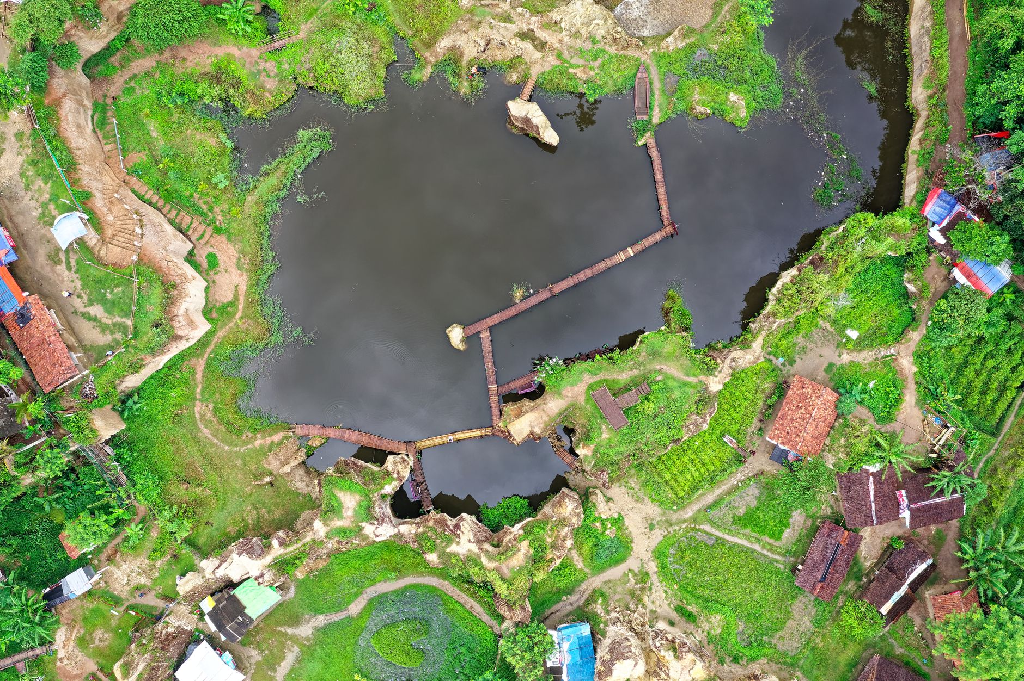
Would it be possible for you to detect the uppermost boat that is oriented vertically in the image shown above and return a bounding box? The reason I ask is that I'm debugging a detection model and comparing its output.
[635,56,650,120]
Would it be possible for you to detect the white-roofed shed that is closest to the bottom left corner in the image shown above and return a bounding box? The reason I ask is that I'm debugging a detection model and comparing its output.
[44,566,109,609]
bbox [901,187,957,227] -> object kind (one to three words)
shed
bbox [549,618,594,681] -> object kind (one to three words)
house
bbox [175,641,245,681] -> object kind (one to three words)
building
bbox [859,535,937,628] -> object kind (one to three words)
house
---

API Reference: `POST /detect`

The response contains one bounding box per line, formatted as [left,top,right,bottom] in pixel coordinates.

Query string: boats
[635,56,650,120]
[671,221,680,235]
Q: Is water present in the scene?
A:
Yes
